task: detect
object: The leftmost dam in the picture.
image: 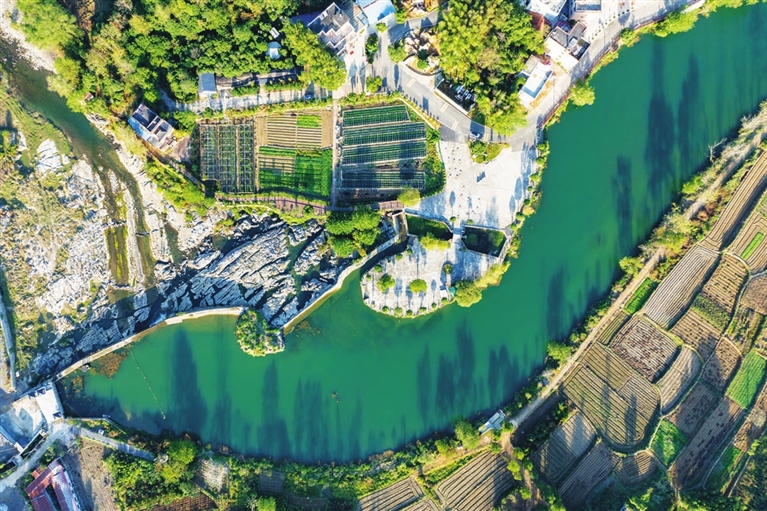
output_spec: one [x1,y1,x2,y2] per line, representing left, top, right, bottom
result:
[53,309,247,383]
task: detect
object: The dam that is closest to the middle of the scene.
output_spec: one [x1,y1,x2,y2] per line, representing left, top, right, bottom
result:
[284,242,394,332]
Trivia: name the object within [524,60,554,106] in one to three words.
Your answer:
building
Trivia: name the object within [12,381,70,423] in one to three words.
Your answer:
building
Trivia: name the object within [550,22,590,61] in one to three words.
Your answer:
house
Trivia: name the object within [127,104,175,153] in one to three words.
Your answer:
house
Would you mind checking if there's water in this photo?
Yes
